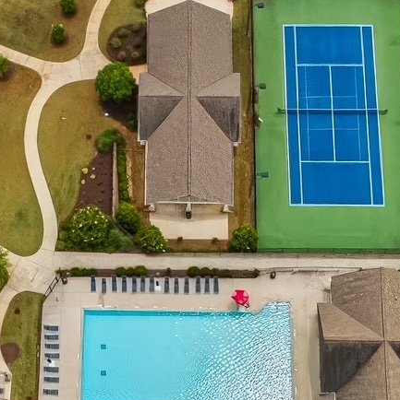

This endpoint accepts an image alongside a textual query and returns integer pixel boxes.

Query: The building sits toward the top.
[135,0,241,240]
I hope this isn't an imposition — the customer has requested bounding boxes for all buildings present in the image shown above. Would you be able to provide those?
[317,267,400,400]
[135,0,241,240]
